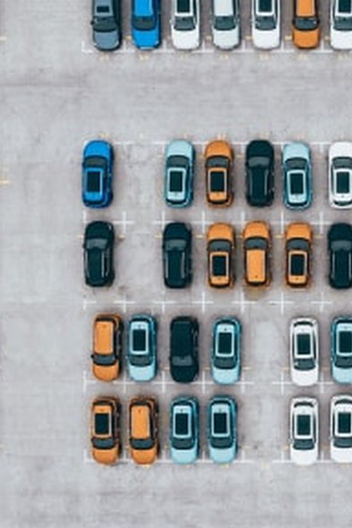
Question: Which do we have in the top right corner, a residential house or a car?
car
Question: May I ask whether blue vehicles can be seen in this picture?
Yes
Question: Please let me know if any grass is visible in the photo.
No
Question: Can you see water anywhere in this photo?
No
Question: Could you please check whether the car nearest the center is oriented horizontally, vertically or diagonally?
vertically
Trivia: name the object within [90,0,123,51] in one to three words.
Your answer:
car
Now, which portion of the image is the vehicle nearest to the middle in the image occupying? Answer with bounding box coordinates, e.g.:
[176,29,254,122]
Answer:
[161,221,193,288]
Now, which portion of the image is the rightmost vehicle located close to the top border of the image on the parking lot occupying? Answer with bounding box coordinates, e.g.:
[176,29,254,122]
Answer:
[329,0,352,51]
